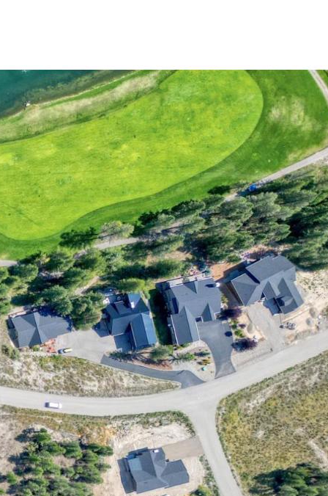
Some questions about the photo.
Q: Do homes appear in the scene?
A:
Yes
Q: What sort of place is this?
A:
golf course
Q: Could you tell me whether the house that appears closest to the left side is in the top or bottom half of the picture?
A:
bottom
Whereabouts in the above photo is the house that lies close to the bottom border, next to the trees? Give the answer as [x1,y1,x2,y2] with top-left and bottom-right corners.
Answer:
[125,446,190,493]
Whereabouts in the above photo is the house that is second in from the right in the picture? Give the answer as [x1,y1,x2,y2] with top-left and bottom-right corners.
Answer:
[161,278,221,345]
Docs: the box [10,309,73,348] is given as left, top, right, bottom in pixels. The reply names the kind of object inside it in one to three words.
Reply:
house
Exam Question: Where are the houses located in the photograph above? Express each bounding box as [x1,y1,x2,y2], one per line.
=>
[102,292,160,348]
[224,255,303,312]
[161,278,221,345]
[10,309,73,348]
[125,446,190,493]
